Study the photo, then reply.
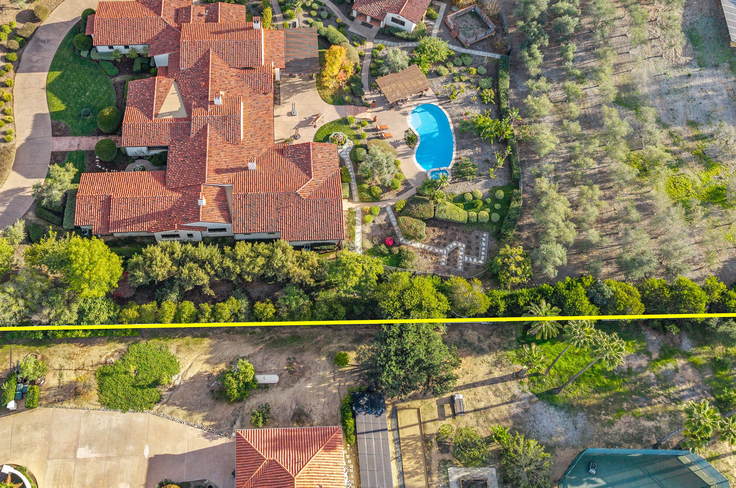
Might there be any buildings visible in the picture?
Yes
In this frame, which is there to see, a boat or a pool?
pool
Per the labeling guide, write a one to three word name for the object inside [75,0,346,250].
house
